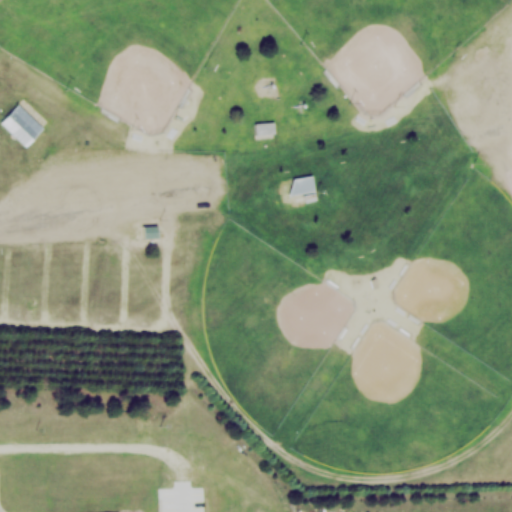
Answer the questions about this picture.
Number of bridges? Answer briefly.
0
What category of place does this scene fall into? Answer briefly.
sports ground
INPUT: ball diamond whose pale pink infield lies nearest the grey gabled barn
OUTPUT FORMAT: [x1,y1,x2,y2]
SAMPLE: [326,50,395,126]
[0,0,242,134]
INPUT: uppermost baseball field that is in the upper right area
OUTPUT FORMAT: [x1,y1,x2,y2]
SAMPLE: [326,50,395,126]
[268,0,512,112]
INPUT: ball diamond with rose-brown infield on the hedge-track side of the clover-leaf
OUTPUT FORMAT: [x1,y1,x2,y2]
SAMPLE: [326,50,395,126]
[204,216,356,440]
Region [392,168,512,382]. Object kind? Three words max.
baseball field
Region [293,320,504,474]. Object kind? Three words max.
baseball field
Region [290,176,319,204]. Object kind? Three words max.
building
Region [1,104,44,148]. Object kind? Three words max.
barn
